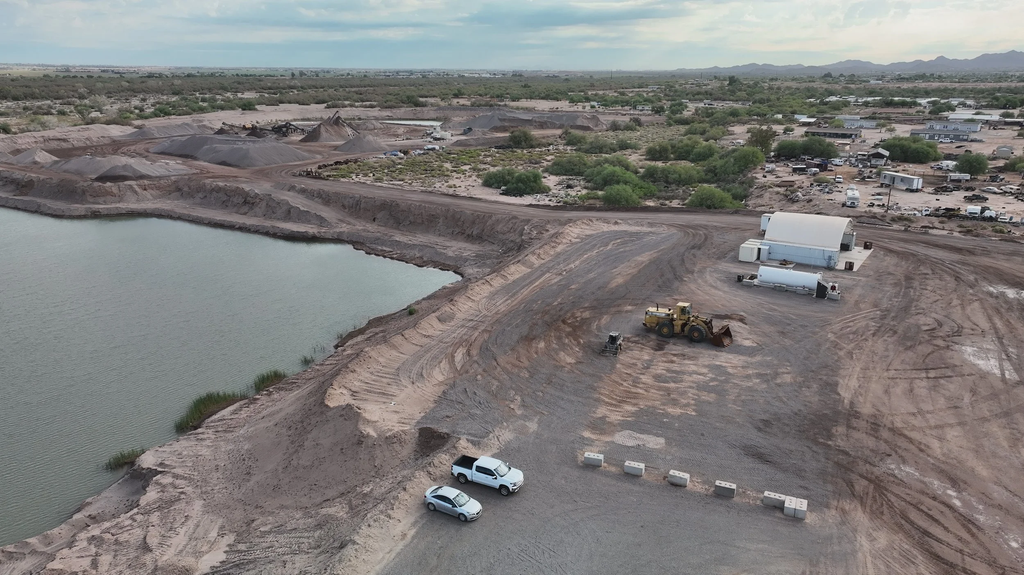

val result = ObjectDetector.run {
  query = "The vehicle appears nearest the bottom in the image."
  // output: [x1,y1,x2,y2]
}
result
[420,486,484,521]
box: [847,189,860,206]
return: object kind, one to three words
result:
vehicle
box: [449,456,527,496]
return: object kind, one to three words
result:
truck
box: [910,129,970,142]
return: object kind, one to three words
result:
house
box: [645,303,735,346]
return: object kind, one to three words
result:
work vehicle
